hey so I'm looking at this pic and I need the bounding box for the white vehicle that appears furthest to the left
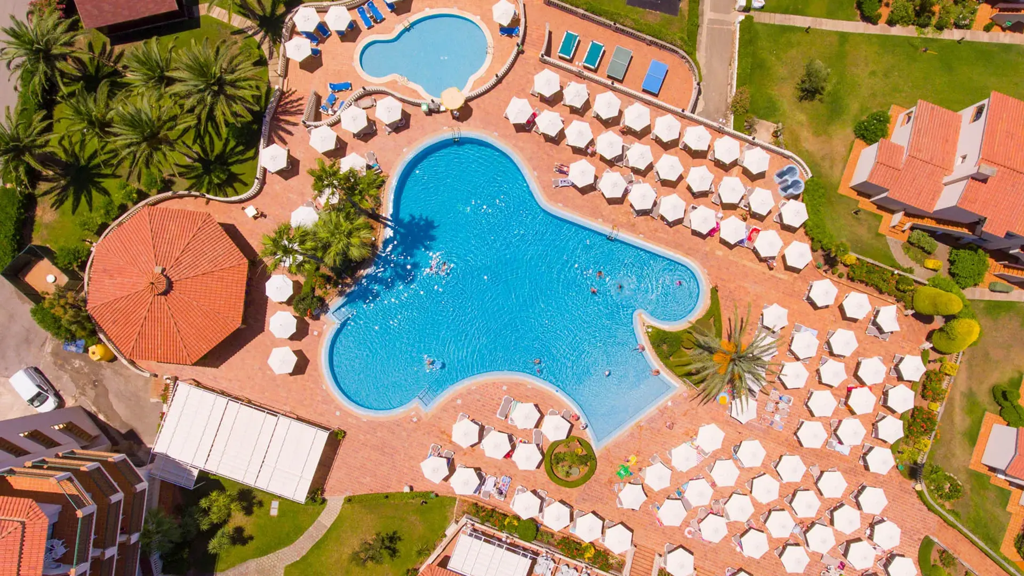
[8,368,58,413]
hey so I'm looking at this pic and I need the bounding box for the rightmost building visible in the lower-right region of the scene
[982,425,1024,503]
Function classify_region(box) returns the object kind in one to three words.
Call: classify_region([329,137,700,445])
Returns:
swimming pool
